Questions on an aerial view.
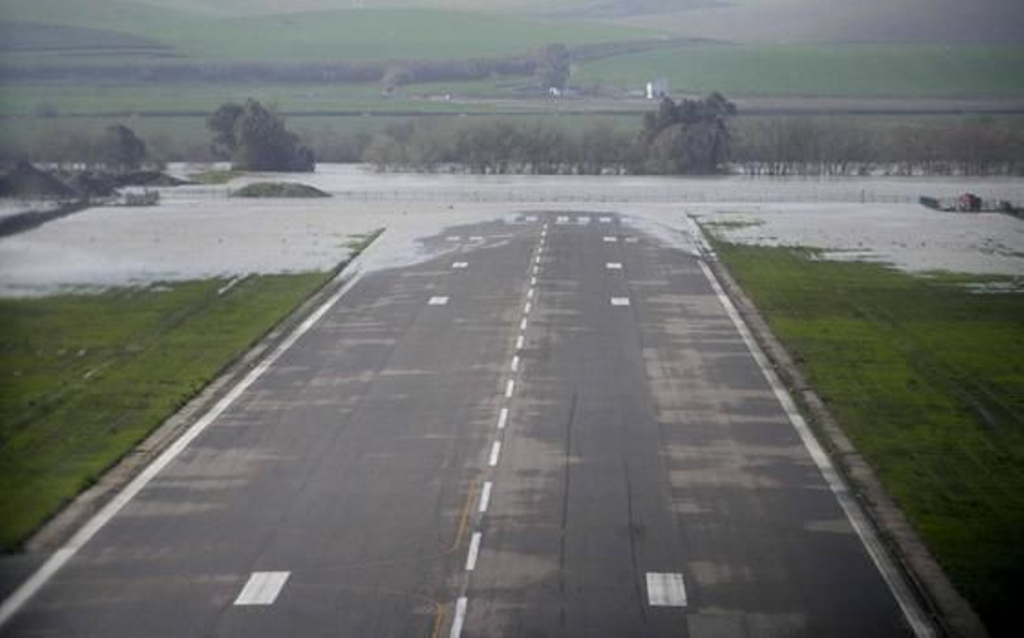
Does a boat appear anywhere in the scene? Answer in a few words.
No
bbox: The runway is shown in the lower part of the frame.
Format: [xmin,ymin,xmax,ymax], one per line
[0,210,950,638]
